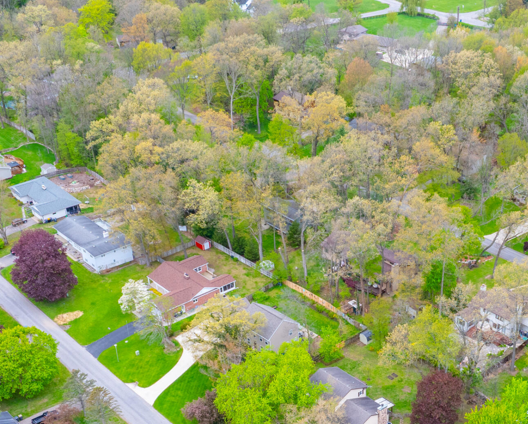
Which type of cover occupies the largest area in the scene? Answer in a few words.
trees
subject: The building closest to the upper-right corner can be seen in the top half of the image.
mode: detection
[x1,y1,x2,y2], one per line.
[339,26,400,49]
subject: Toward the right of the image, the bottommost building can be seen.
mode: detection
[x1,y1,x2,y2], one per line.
[306,364,398,424]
